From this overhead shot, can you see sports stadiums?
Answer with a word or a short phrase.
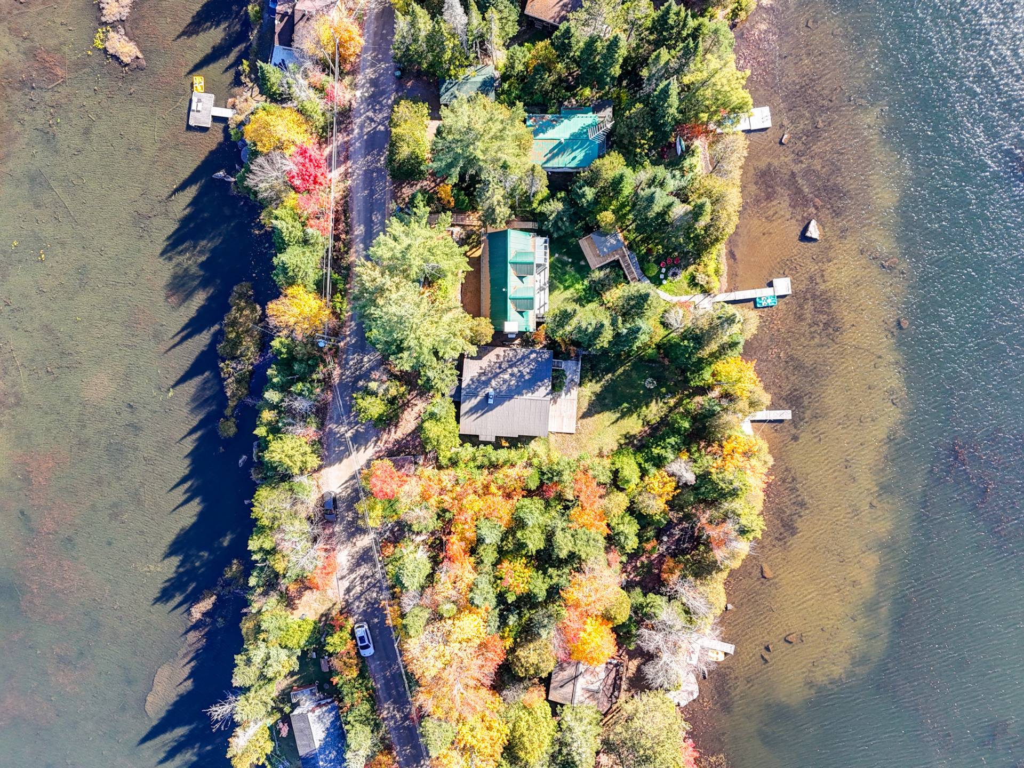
No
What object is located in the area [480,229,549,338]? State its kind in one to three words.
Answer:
house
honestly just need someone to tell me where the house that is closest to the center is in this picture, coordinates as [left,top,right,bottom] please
[451,348,582,442]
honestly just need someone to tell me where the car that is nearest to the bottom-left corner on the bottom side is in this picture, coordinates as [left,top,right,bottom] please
[354,623,373,658]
